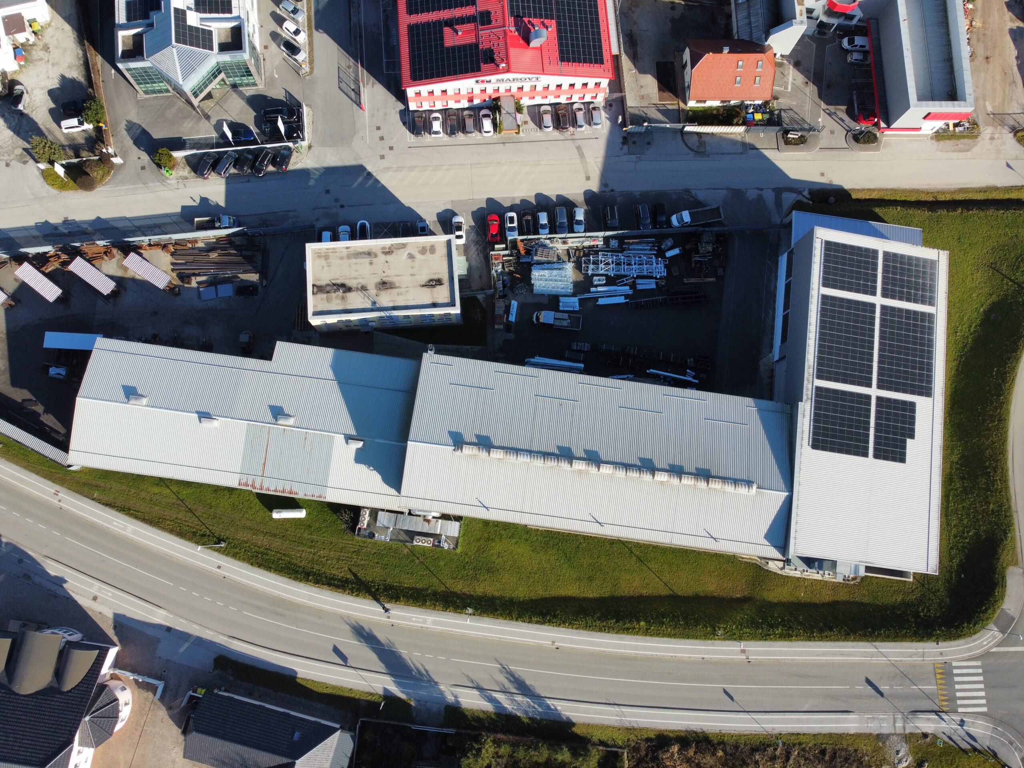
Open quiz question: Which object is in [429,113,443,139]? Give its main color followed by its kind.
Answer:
white car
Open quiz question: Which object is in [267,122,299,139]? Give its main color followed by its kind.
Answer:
black car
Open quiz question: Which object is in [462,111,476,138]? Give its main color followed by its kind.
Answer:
gray car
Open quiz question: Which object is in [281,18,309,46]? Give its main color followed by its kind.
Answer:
white car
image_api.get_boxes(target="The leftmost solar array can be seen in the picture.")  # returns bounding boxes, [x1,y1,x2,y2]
[126,0,149,21]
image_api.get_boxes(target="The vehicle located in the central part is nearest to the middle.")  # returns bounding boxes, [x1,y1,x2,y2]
[532,310,582,330]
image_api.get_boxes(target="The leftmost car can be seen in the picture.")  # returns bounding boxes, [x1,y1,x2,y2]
[10,85,29,112]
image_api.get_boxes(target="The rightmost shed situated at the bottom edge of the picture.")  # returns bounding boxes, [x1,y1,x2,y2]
[182,689,342,768]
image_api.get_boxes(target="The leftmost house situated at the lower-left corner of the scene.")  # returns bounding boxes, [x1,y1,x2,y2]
[0,627,133,768]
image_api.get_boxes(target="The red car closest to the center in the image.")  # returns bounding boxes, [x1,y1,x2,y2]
[486,215,501,243]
